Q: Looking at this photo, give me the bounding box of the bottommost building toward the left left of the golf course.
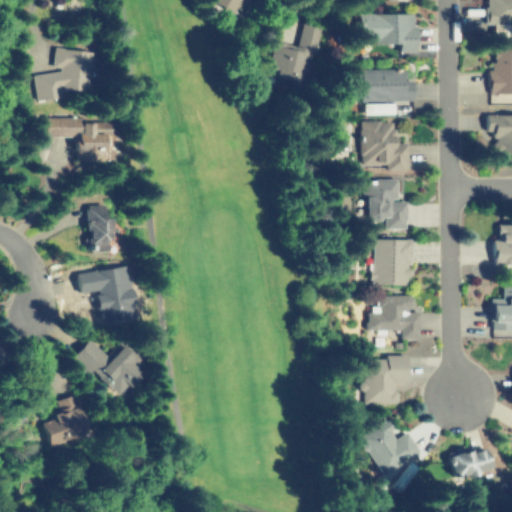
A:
[43,396,90,448]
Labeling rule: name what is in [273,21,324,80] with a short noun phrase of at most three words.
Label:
house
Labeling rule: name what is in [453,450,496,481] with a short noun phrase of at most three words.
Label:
house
